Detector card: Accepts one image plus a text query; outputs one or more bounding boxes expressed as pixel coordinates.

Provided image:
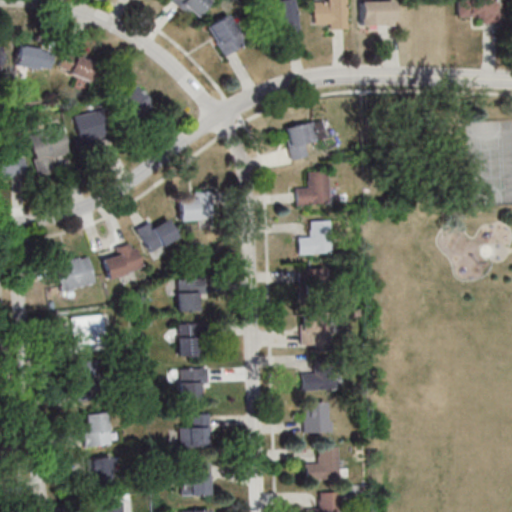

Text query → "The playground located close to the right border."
[436,222,512,282]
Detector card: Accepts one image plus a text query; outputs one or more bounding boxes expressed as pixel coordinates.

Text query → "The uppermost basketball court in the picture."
[466,121,512,203]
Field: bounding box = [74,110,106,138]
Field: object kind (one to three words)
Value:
house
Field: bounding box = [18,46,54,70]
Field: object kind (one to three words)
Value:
house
